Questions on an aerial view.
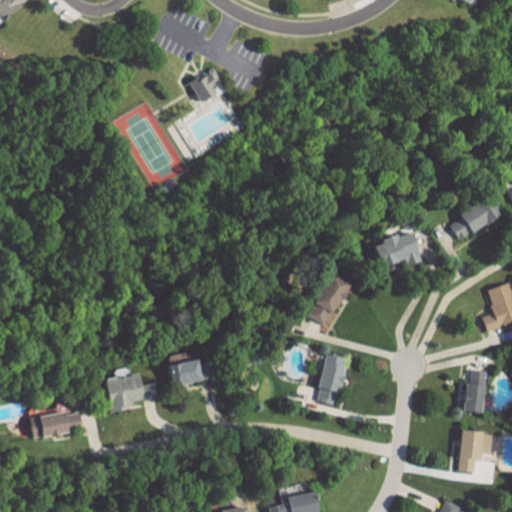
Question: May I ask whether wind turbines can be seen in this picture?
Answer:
No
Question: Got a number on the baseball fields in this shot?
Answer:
zero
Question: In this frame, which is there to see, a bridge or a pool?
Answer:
pool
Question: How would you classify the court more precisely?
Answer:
tennis court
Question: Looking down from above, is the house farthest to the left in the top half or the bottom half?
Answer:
bottom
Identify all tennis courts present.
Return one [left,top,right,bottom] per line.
[114,102,187,188]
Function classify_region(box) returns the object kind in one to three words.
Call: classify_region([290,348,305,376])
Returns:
swimming pool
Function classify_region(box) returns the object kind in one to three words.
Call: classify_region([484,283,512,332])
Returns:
house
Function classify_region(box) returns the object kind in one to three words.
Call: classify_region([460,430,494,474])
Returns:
house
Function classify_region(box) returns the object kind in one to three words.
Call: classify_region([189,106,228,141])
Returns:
swimming pool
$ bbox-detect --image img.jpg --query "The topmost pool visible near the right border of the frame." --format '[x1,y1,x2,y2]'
[492,376,512,412]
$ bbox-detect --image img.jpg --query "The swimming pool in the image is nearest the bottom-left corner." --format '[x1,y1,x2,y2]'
[0,402,24,424]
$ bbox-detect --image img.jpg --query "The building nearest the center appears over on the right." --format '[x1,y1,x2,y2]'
[310,277,352,326]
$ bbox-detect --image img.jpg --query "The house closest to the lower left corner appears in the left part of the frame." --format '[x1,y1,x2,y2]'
[30,412,82,442]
